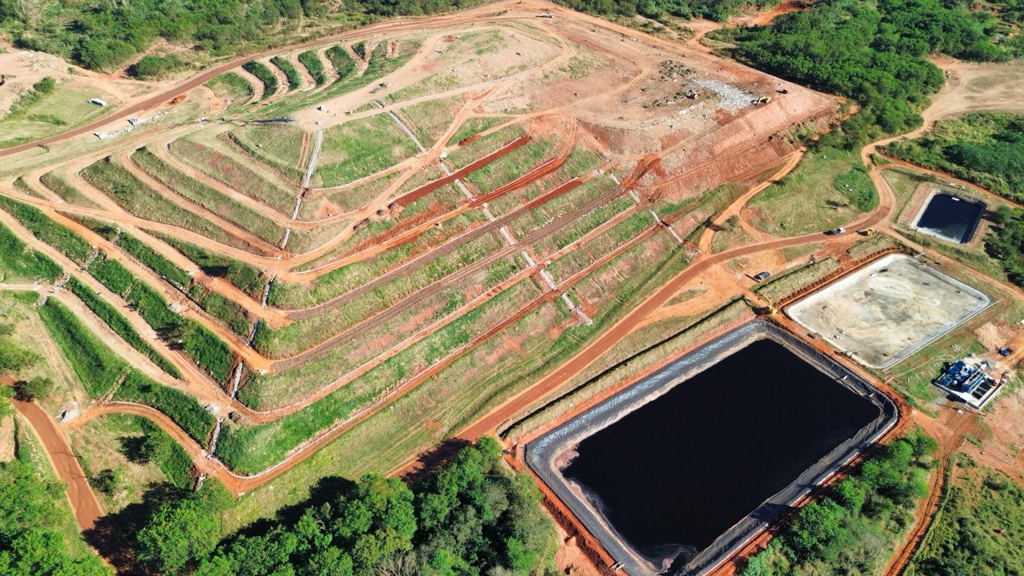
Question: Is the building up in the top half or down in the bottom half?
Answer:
bottom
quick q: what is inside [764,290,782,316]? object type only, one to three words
work vehicle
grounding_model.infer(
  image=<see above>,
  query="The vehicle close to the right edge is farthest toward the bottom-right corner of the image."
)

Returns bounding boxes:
[997,343,1017,356]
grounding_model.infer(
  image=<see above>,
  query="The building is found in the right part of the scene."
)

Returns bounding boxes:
[932,360,1010,412]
